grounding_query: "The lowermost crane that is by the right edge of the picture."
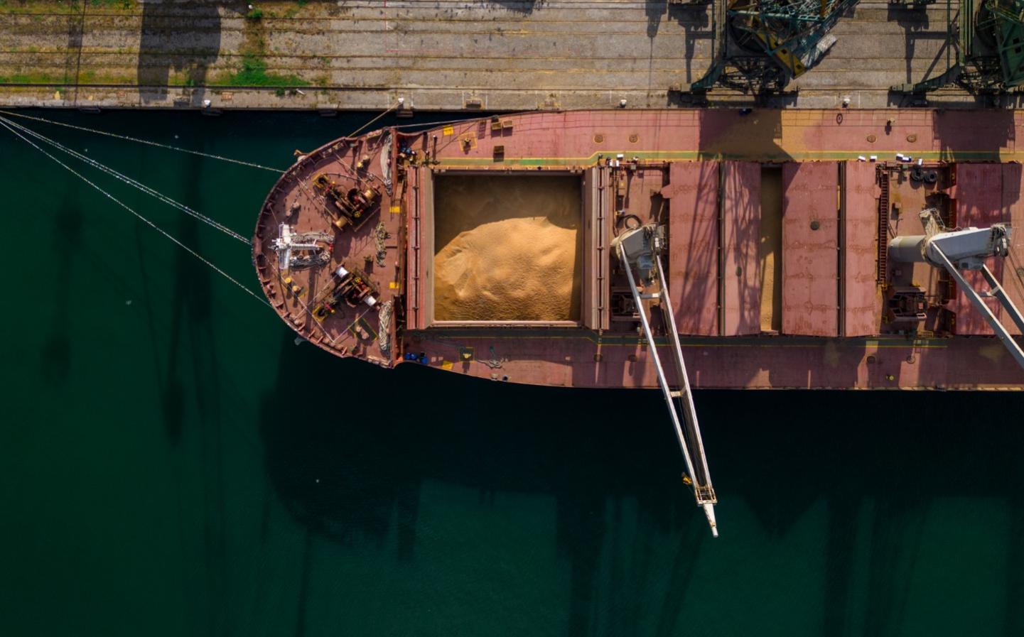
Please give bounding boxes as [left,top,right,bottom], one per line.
[891,204,1024,355]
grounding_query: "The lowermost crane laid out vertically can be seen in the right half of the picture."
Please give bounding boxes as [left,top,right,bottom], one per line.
[612,204,719,536]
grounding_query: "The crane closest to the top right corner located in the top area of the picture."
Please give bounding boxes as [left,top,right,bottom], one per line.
[899,0,1024,91]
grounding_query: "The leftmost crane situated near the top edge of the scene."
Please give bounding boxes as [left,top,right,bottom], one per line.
[674,0,847,91]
